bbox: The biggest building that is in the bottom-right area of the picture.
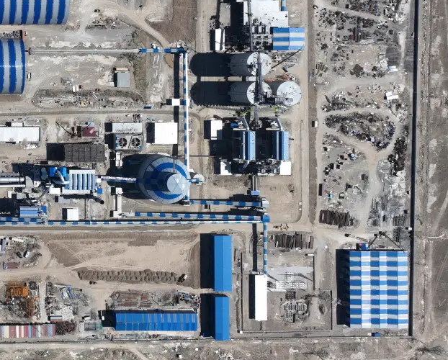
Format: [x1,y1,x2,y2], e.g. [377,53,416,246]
[344,250,407,328]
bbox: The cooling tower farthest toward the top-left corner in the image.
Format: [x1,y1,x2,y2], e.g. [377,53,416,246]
[114,134,142,150]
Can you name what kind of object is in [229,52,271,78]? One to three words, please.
silo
